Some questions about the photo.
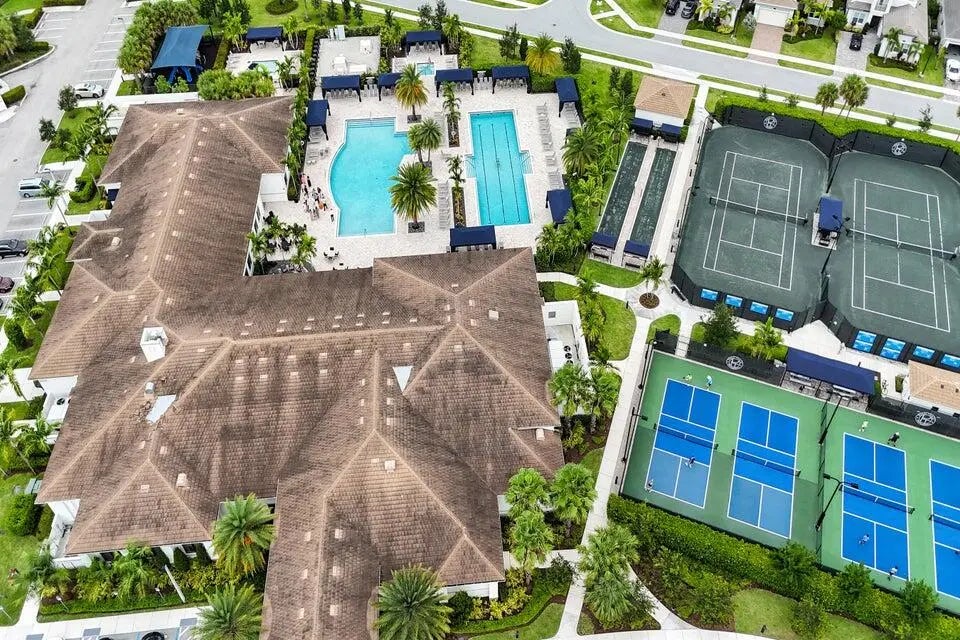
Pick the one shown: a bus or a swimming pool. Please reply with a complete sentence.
This aerial view contains a swimming pool.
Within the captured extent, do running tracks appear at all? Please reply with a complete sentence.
No, there appears to be no running track in this shot.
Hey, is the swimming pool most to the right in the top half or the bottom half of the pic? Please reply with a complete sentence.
You can find the swimming pool most to the right in the top half.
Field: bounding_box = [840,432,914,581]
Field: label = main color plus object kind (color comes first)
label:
blue sports court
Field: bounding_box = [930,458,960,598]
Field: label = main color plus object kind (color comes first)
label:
blue sports court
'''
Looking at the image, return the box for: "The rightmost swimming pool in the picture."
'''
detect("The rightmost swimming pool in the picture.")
[463,110,534,226]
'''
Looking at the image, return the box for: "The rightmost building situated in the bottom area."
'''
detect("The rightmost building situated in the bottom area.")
[900,359,960,424]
